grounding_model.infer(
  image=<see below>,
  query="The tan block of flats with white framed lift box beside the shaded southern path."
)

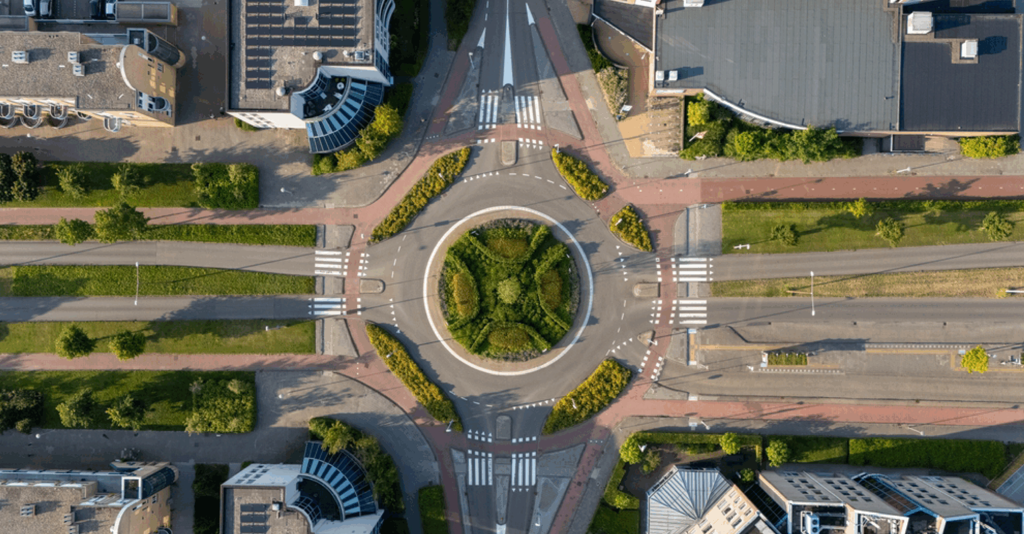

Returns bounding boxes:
[0,457,182,534]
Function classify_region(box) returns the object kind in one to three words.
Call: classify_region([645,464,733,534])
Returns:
house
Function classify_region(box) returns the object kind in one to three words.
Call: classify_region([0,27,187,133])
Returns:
building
